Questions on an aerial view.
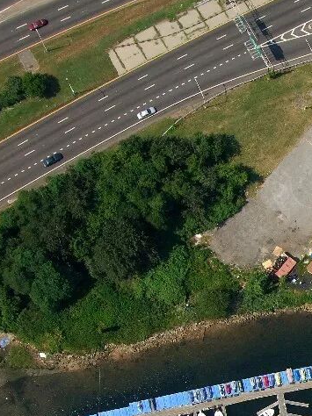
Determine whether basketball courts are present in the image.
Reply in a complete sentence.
No, there appears to be no basketball court in this shot.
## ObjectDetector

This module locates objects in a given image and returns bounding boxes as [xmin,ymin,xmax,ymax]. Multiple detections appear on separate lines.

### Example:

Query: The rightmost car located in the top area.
[136,106,156,121]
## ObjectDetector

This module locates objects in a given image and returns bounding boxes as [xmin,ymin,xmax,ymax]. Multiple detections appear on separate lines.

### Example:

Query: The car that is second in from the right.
[42,151,63,167]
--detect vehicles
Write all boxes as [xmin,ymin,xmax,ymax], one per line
[27,16,48,32]
[136,106,156,121]
[42,151,63,167]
